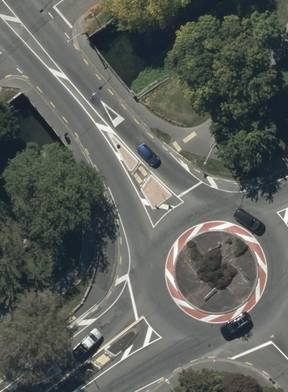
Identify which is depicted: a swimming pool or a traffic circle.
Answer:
traffic circle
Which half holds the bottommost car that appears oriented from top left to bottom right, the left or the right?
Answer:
right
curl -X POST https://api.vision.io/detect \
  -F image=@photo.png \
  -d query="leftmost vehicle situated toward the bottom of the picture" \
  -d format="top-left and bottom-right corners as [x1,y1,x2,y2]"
[72,328,102,358]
